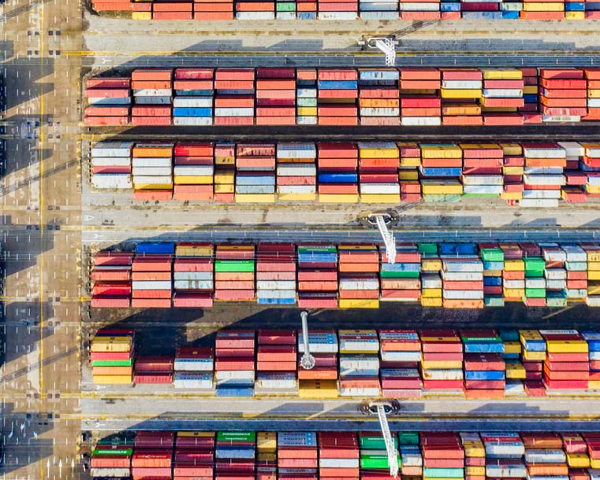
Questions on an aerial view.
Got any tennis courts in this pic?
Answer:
No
